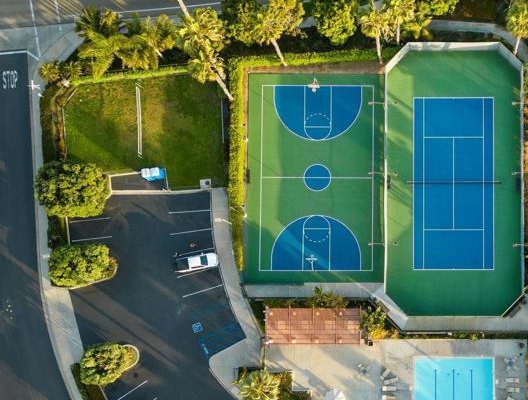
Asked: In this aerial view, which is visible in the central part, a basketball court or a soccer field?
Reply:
basketball court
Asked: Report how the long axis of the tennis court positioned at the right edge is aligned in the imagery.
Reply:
from top to bottom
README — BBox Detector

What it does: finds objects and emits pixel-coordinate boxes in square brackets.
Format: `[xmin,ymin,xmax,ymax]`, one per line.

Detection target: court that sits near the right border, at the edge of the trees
[383,42,527,318]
